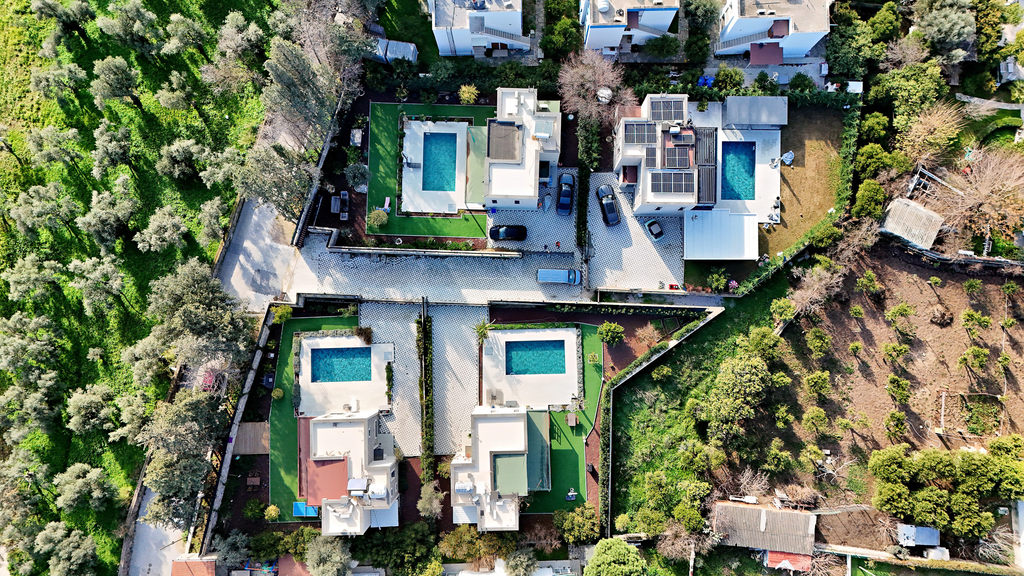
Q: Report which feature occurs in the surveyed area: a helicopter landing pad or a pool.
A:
pool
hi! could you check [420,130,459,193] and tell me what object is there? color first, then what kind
blue swimming pool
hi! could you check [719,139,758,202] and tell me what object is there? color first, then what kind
blue swimming pool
